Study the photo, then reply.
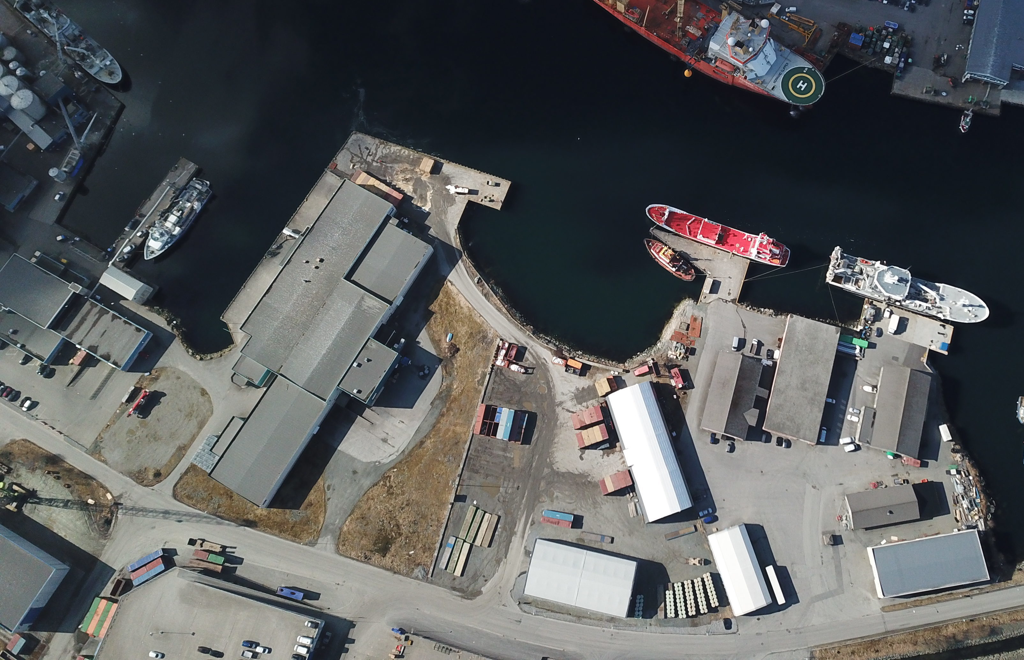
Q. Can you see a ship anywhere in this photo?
Yes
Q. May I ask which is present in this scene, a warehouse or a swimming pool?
warehouse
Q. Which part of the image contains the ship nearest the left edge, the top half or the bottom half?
top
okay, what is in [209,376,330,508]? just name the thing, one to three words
warehouse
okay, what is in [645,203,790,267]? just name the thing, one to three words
ship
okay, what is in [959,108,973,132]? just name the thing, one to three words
boat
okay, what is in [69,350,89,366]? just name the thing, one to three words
vehicle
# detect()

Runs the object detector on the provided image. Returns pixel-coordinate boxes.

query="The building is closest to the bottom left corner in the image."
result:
[0,524,69,633]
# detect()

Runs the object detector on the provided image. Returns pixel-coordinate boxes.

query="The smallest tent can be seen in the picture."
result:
[707,525,772,616]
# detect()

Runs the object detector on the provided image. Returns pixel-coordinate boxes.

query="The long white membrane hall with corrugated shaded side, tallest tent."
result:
[607,382,692,523]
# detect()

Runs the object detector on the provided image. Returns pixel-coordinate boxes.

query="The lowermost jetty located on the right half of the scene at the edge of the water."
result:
[856,297,955,356]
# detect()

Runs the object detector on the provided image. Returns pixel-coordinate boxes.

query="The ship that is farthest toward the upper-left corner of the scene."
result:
[9,0,125,88]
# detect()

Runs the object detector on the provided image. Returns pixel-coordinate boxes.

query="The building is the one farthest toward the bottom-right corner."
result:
[864,530,990,598]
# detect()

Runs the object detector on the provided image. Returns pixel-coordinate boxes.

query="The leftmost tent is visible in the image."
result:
[524,539,637,618]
